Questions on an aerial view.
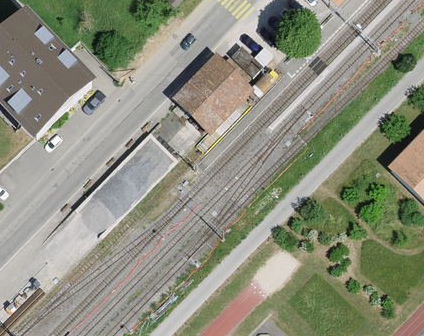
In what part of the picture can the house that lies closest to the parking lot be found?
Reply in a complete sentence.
Look in the top left portion of the view to spot the house that lies closest to the parking lot.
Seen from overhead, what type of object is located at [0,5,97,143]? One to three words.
house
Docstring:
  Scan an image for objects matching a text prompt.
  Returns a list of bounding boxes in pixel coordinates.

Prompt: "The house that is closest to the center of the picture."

[172,52,254,134]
